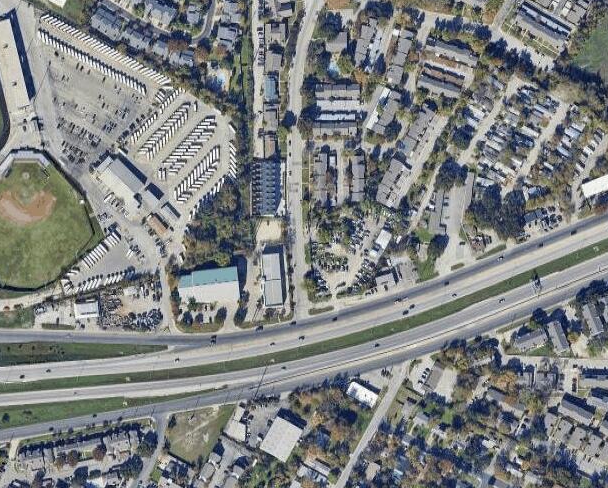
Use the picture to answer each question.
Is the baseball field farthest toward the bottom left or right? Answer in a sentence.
It is on the left.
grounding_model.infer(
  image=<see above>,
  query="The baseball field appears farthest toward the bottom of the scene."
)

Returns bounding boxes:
[0,159,101,290]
